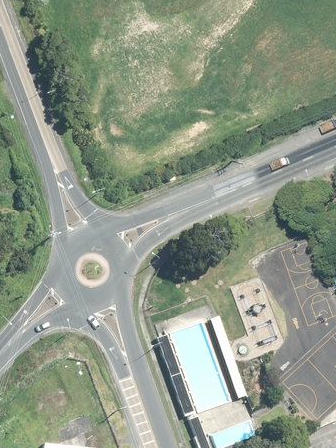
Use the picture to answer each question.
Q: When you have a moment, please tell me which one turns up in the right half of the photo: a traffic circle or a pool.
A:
pool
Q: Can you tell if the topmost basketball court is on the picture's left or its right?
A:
right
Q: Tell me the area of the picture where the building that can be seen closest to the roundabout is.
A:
bottom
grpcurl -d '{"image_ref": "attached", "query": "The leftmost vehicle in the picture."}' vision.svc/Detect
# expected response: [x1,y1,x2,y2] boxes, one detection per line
[34,320,50,332]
